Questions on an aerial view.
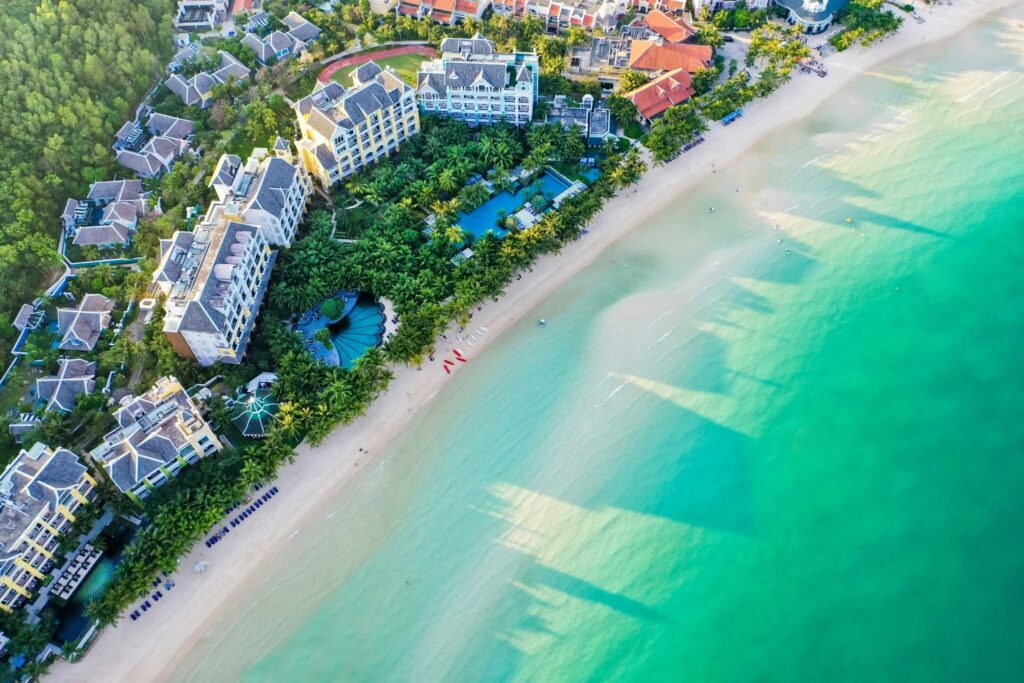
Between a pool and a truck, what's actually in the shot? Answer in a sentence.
The one in the frame is a pool.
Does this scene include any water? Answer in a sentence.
Yes, water can be seen from above here.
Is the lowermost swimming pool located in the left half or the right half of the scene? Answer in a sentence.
It is on the left.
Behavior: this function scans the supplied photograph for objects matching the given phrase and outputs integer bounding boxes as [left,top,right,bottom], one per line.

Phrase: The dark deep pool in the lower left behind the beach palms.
[53,513,130,645]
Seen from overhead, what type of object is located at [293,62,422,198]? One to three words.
building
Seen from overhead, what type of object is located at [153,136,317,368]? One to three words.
building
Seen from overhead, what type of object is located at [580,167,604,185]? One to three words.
swimming pool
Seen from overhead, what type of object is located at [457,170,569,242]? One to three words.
swimming pool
